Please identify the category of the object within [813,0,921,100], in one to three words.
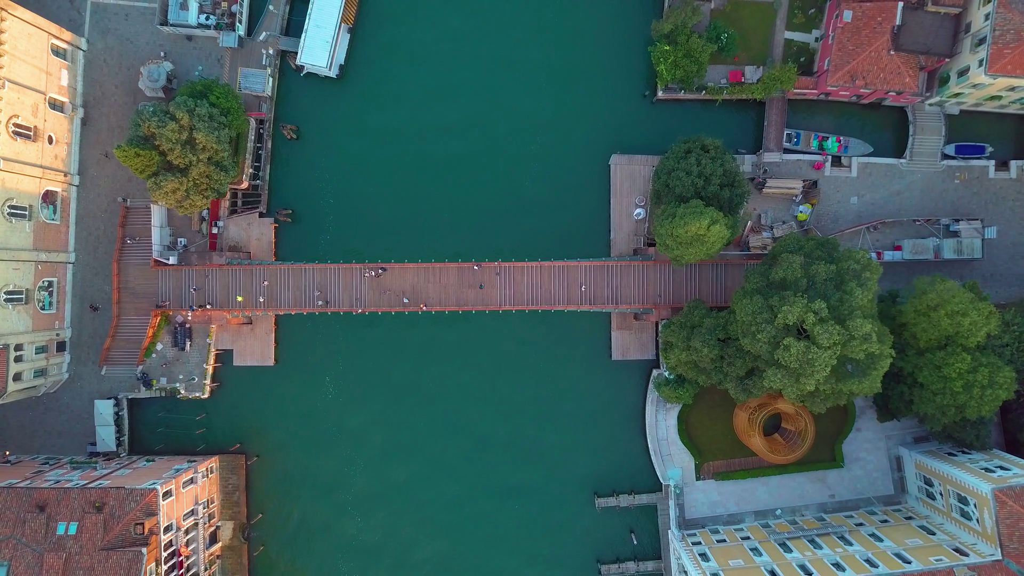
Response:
house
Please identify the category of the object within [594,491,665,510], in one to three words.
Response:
pier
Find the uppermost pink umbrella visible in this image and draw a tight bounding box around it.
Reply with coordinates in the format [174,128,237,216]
[728,70,742,82]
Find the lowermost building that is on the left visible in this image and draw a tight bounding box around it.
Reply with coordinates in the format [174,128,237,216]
[0,454,220,576]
